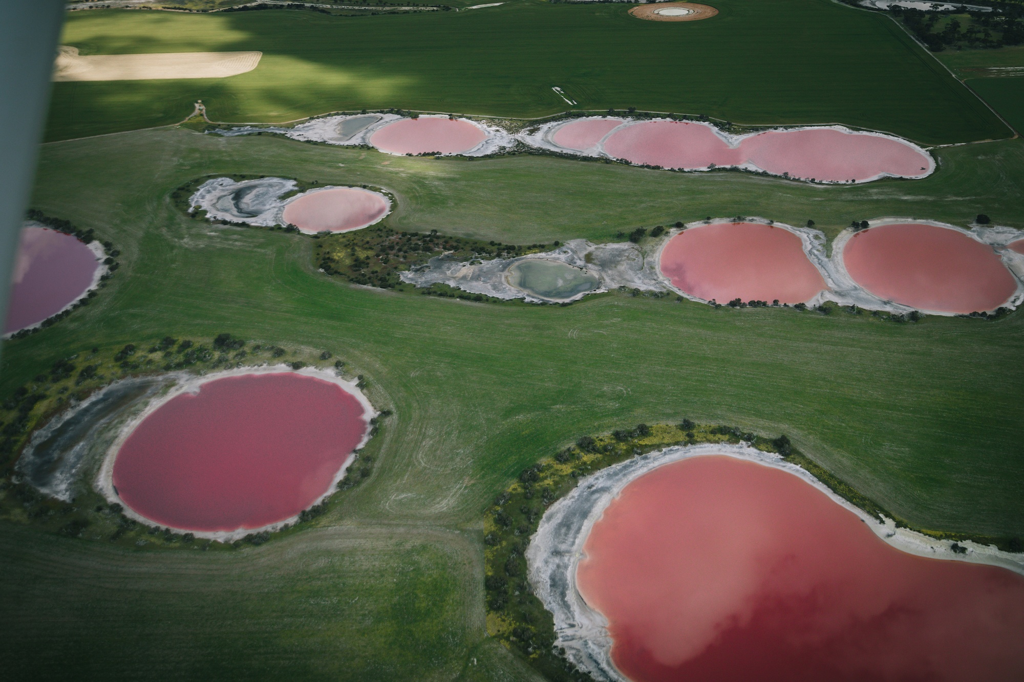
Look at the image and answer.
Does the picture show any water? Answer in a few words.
Yes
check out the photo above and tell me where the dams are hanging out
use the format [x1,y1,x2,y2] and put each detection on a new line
[626,0,719,23]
